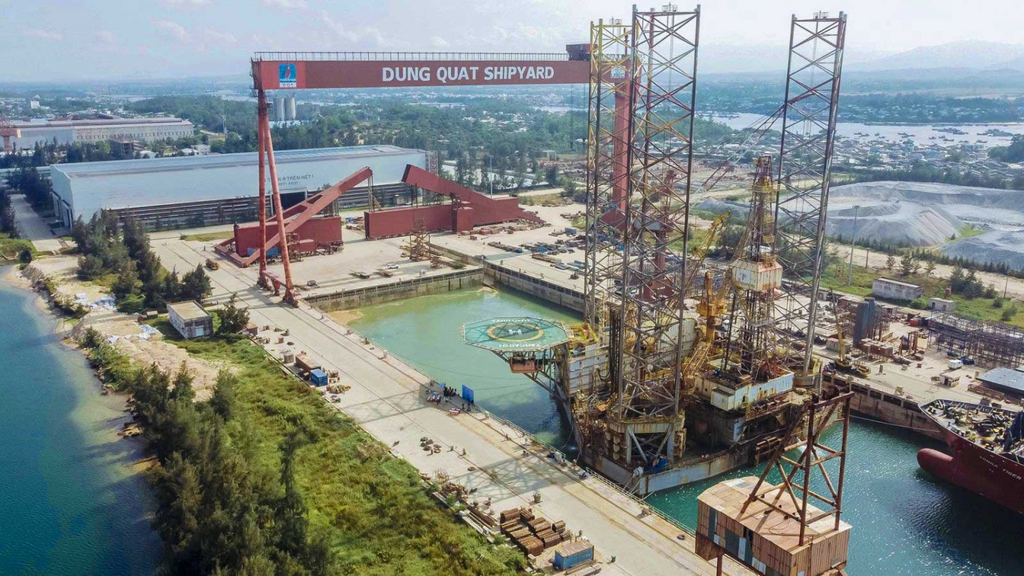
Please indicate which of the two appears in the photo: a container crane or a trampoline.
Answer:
container crane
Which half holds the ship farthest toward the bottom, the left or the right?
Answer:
right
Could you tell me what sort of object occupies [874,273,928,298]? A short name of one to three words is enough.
building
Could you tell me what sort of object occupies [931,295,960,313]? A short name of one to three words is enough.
shed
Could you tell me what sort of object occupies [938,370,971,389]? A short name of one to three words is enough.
shed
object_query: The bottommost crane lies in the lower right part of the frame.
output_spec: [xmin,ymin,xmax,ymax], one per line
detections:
[692,372,862,576]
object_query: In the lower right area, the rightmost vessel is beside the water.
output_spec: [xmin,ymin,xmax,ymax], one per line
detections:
[855,400,1024,518]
